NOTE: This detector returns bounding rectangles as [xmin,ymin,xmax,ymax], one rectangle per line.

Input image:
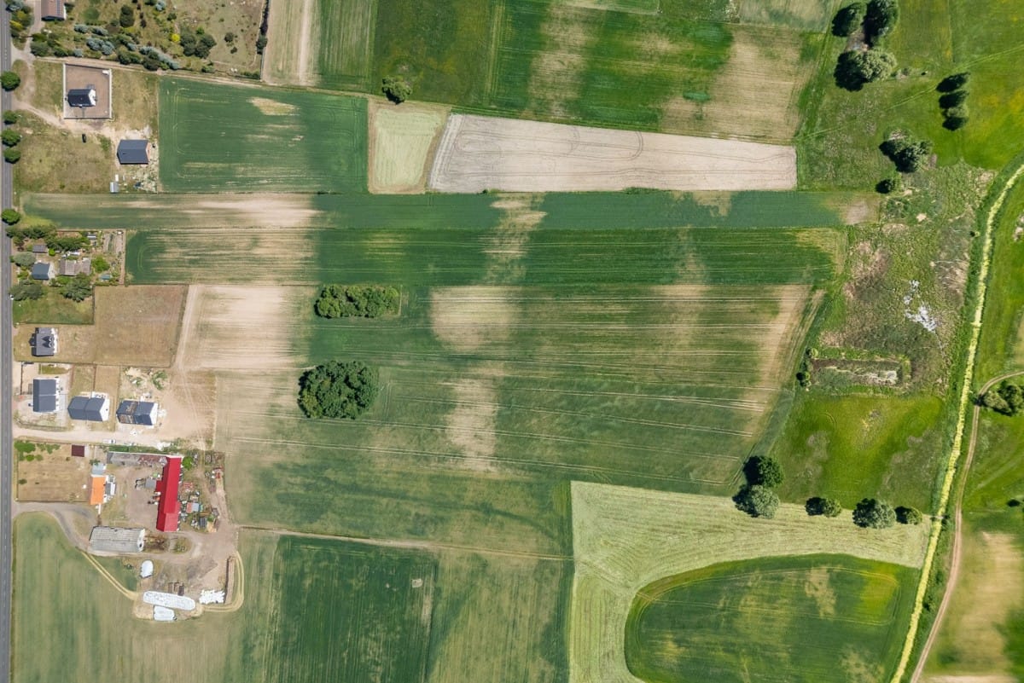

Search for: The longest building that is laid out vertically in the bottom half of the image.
[158,455,189,537]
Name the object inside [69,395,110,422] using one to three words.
house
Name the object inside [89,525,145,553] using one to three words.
barn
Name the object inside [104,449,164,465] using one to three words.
shed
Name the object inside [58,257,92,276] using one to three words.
building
